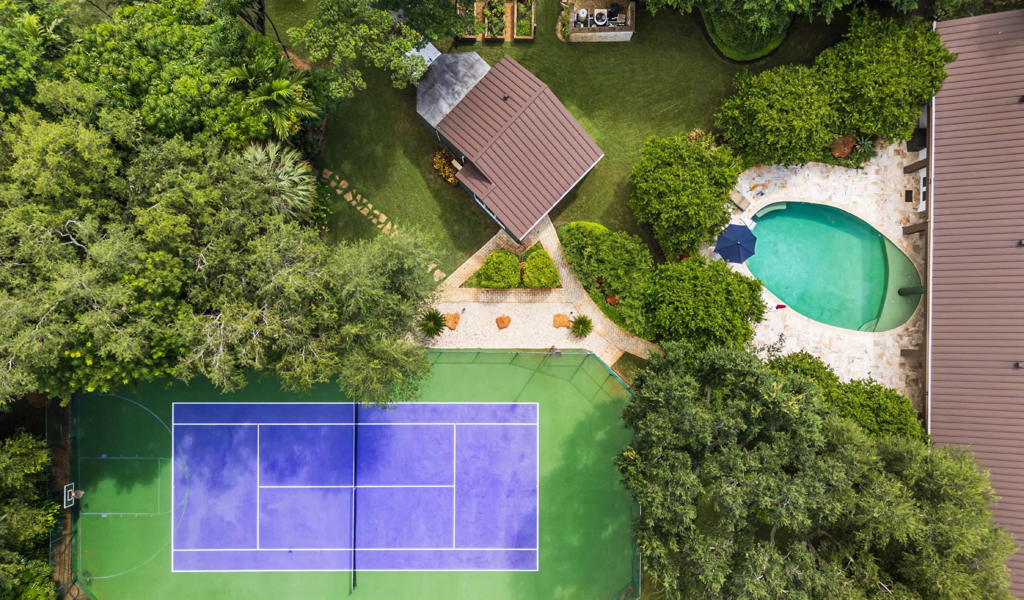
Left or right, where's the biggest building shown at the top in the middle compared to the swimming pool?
left of it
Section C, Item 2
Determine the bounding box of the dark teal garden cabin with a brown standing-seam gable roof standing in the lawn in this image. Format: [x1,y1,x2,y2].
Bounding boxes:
[417,51,604,244]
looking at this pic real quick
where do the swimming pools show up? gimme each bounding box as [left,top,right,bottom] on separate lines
[746,195,925,338]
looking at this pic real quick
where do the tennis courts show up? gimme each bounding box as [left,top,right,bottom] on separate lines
[71,348,634,600]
